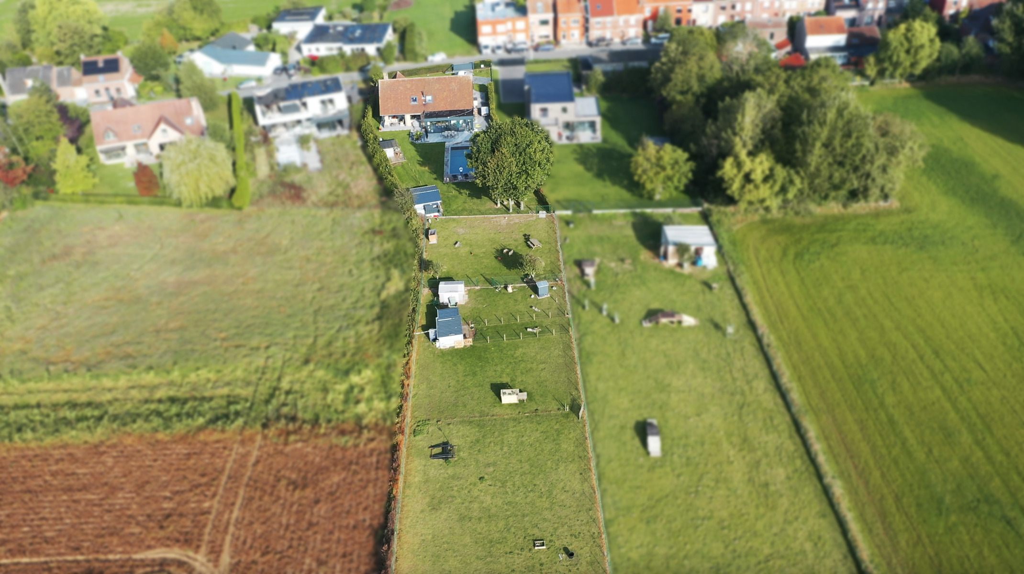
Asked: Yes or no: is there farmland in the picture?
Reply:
Yes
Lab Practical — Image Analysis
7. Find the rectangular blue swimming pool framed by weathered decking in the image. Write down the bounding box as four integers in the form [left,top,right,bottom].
[440,141,473,181]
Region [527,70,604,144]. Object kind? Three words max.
house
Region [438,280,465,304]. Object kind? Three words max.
shed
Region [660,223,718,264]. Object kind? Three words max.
building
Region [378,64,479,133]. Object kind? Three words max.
house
